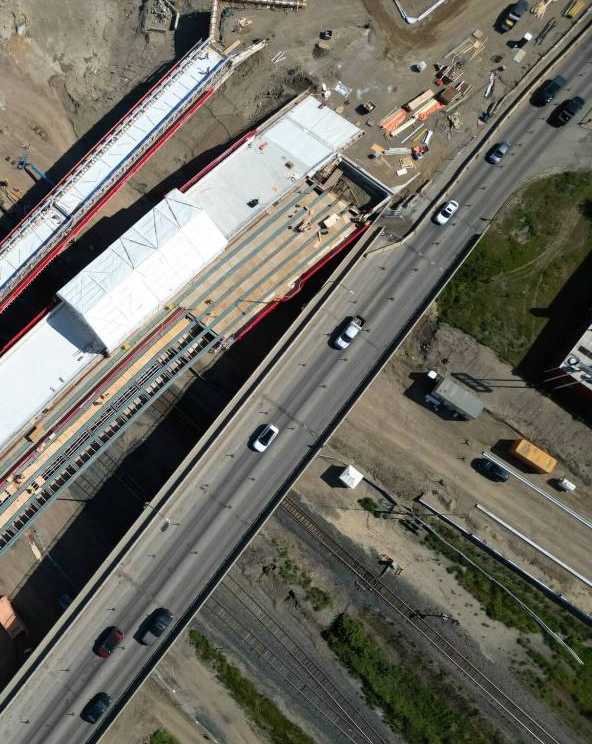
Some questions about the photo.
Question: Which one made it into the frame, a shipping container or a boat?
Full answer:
Looking from above, you can make out a shipping container.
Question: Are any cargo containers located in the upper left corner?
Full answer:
No, in the upper left corner there is no cargo container.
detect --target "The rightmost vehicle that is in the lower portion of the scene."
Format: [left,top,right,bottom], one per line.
[560,475,581,493]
